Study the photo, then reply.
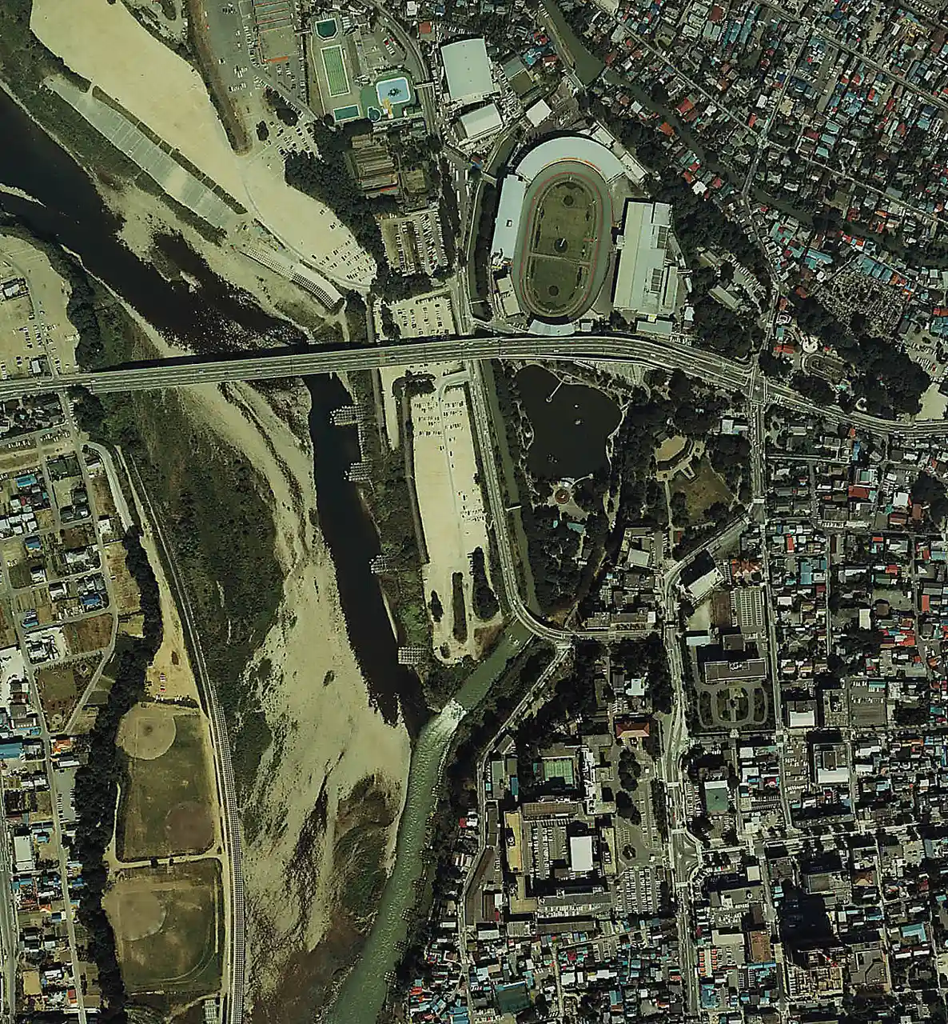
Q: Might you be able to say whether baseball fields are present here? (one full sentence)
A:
Yes, you can see a baseball field in this photo.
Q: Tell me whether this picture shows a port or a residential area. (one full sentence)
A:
The area seen from above is a residential area.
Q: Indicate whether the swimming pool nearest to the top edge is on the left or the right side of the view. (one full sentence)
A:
It is on the left.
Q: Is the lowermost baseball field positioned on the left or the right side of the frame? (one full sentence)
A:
You can find the lowermost baseball field on the left side of the picture.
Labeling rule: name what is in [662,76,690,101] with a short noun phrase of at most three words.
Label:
house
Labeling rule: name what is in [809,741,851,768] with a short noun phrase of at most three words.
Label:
building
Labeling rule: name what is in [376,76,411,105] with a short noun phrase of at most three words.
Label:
swimming pool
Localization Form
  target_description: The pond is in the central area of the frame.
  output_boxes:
[516,365,622,478]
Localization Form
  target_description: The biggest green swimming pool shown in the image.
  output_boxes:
[320,44,350,97]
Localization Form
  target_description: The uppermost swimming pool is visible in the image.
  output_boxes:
[315,18,339,39]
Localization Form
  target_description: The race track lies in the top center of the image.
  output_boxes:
[515,162,616,321]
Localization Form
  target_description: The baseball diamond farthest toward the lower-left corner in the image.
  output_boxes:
[102,861,220,993]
